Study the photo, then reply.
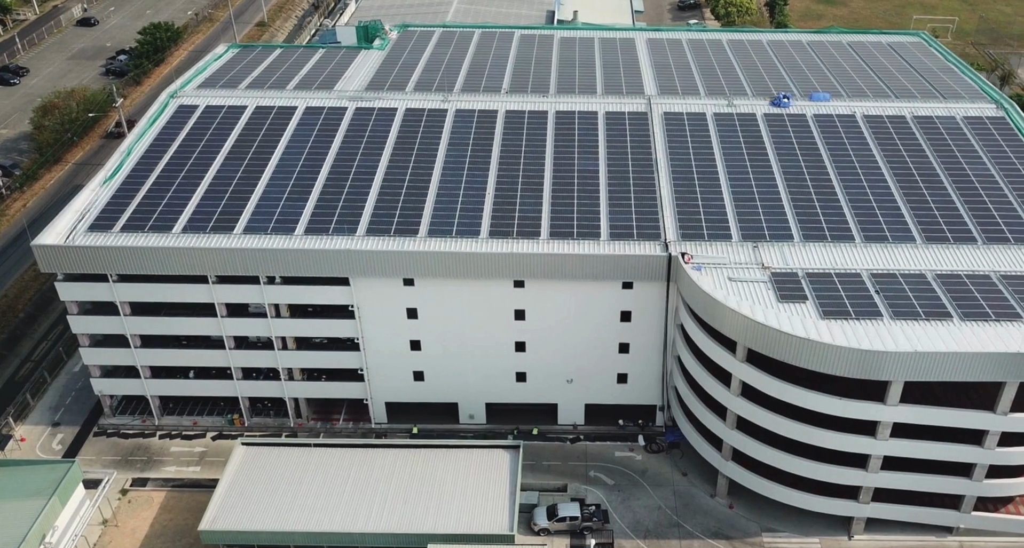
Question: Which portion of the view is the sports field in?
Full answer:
The sports field sits in the top right section of the image.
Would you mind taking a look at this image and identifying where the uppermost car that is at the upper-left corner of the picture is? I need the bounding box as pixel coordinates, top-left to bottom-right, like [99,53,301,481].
[71,13,100,26]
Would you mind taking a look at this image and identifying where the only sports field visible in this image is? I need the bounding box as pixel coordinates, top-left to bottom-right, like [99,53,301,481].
[731,0,1024,75]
